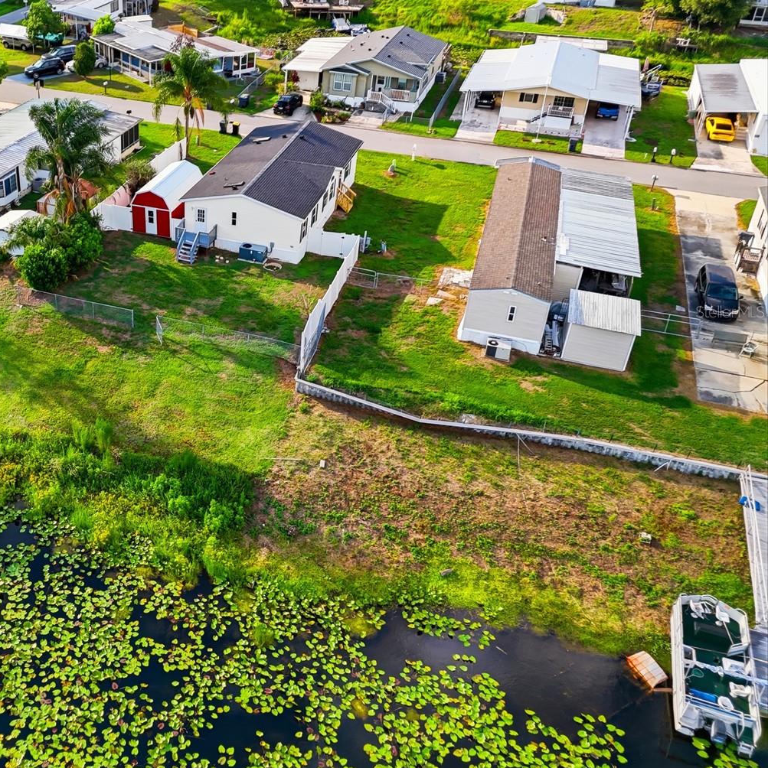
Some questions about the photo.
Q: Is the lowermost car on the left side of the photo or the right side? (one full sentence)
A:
The lowermost car sits on the right side.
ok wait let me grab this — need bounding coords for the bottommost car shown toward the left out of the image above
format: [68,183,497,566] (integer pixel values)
[274,92,306,117]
